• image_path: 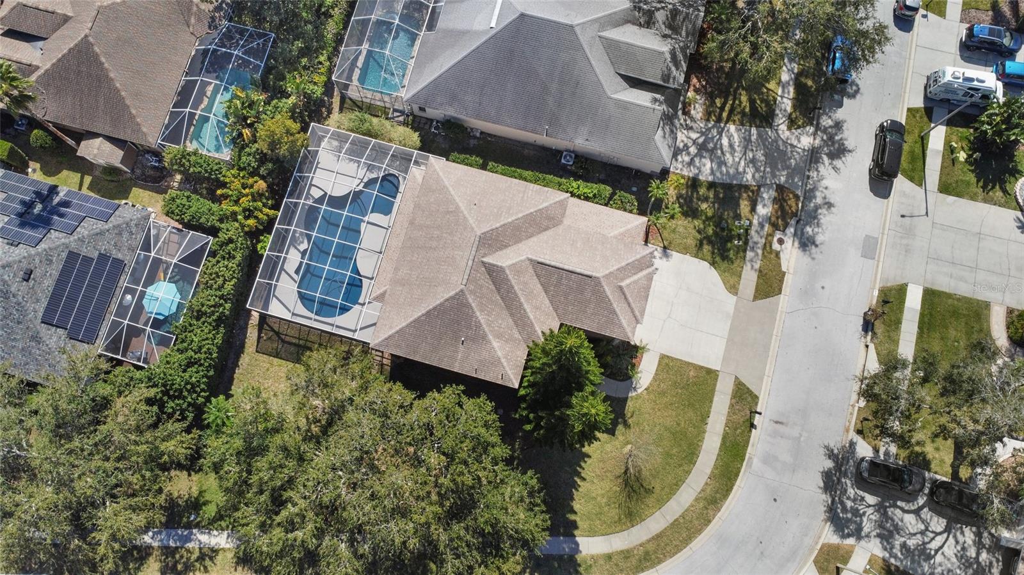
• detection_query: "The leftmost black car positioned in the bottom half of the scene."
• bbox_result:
[852,461,925,503]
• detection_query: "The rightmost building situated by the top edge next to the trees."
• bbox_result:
[404,0,704,173]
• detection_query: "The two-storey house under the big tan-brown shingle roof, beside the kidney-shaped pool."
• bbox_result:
[366,156,659,389]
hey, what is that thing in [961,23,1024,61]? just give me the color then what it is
blue car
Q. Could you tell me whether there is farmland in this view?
No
